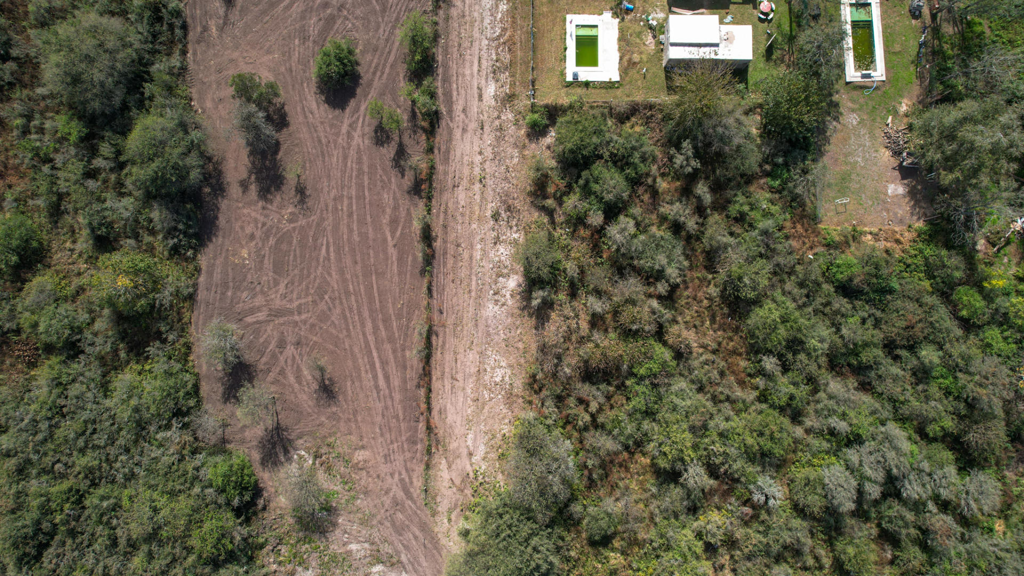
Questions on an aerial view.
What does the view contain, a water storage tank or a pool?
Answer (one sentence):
This aerial view contains a pool.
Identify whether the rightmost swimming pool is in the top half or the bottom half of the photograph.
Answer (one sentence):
The rightmost swimming pool is in the top half of the image.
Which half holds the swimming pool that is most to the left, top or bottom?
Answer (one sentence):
Seen from above, the swimming pool that is most to the left lies in the top half of the view.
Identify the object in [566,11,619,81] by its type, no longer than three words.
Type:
swimming pool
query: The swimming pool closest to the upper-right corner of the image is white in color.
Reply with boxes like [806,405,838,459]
[841,0,887,82]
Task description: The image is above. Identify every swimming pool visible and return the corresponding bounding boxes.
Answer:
[841,0,887,82]
[566,11,619,81]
